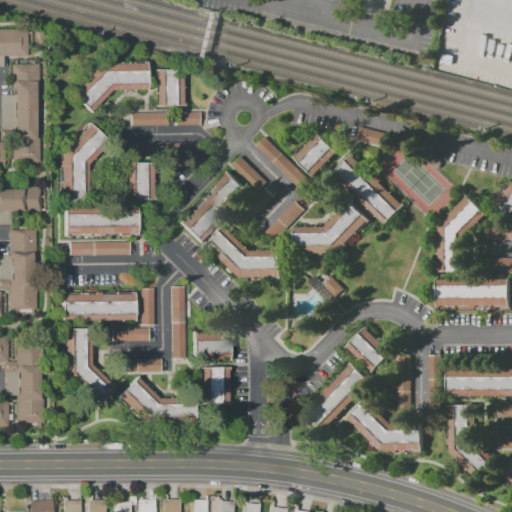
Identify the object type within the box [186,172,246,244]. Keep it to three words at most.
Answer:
building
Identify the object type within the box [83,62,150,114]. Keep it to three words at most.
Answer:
building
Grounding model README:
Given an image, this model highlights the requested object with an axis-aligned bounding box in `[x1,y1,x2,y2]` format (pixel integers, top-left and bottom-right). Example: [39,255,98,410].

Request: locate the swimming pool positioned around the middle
[296,292,323,314]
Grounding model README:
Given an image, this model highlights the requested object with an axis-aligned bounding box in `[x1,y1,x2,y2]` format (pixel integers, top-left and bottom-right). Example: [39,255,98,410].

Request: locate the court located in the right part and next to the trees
[381,154,456,214]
